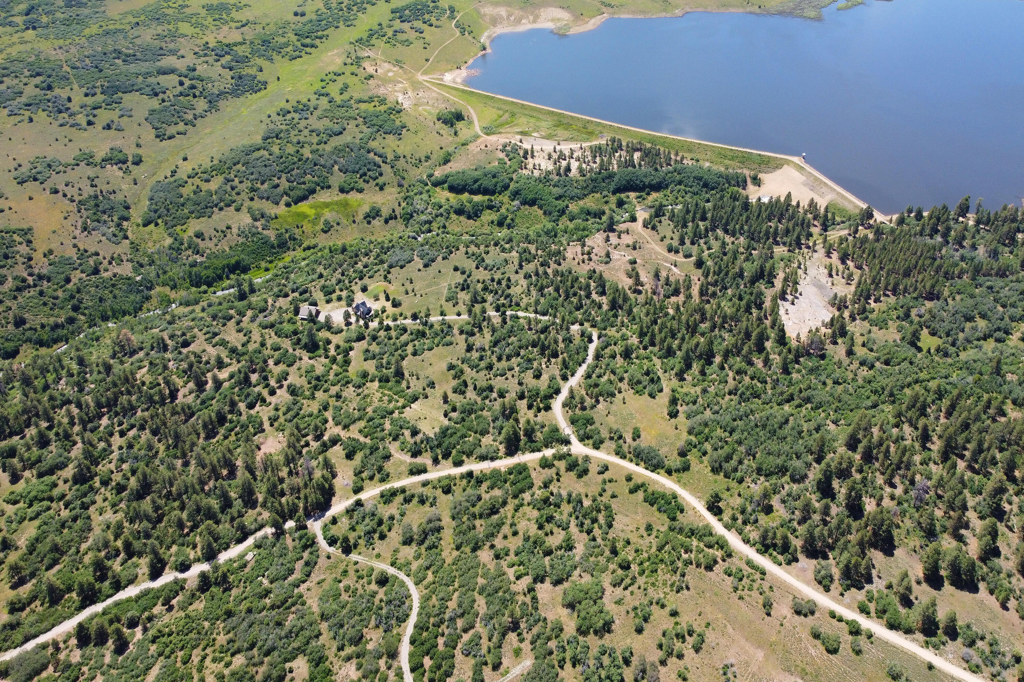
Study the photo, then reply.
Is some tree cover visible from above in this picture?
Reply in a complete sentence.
Yes, tree cover shows up in the scene.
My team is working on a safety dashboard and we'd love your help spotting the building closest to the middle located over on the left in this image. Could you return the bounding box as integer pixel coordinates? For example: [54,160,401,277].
[347,300,374,323]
